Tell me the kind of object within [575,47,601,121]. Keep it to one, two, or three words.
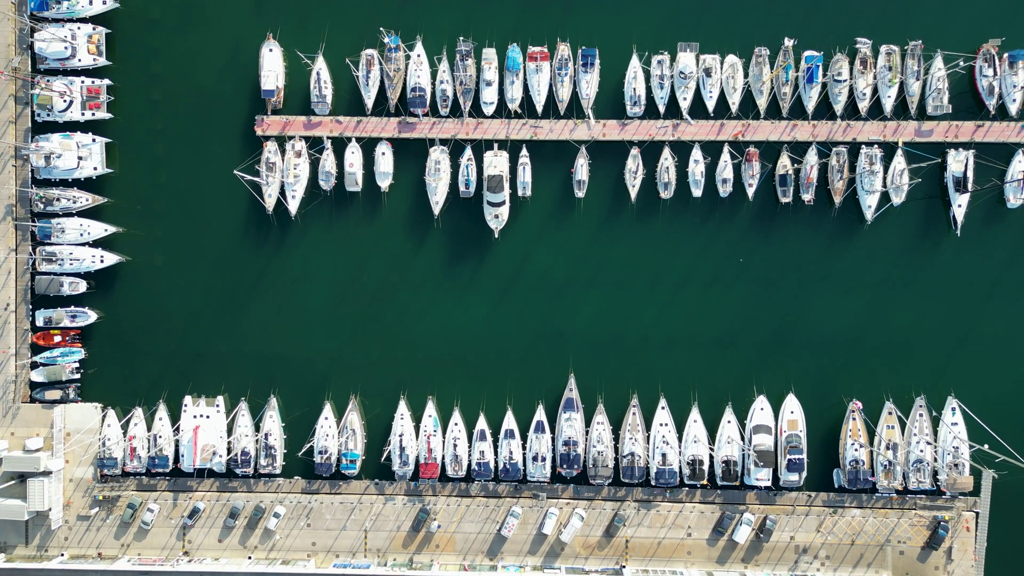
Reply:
boat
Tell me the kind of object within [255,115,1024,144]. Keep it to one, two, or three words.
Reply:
pier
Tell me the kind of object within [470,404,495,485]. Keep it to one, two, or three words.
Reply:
boat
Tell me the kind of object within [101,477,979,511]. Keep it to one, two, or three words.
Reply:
pier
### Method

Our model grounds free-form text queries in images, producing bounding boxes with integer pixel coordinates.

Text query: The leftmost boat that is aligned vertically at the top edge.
[258,28,286,115]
